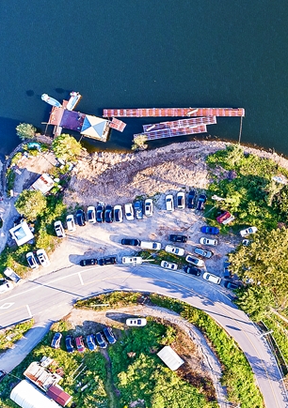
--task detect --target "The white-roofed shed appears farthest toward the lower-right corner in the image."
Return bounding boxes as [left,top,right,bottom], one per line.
[156,346,187,371]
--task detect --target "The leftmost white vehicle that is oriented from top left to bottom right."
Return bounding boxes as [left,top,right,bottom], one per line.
[0,267,20,284]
